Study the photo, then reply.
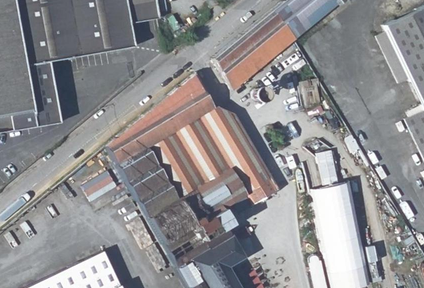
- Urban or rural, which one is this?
urban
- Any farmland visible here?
No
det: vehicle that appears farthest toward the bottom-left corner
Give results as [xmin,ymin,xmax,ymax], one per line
[4,230,18,248]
